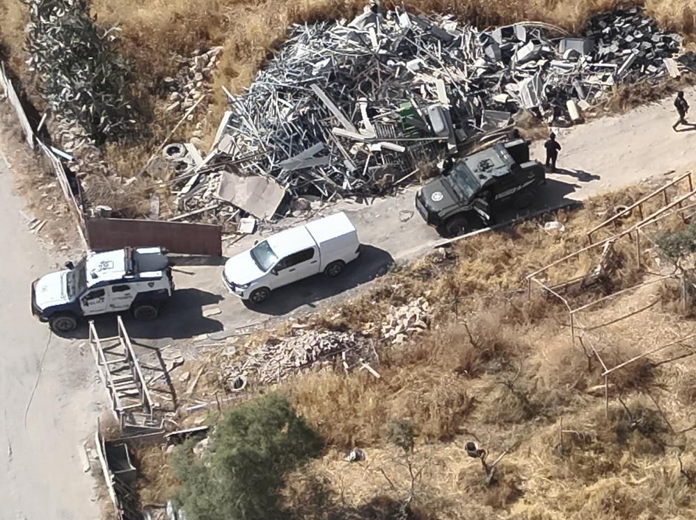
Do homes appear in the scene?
No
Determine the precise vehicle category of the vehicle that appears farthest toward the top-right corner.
car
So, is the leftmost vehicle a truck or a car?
car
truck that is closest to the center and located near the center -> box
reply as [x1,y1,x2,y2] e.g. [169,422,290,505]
[213,203,364,306]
